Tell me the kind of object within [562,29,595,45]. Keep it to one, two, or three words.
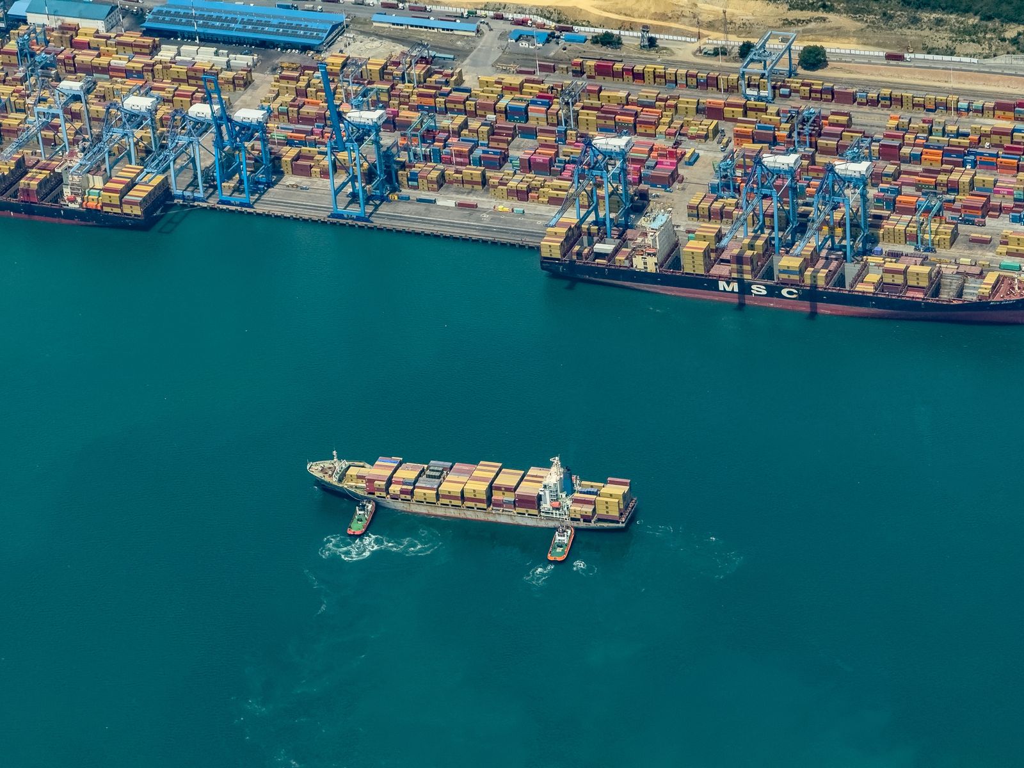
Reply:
shed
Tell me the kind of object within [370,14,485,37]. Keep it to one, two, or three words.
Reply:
shed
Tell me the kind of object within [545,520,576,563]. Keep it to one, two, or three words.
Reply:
boat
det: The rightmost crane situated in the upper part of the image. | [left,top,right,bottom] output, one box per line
[913,193,944,251]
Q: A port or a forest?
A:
port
